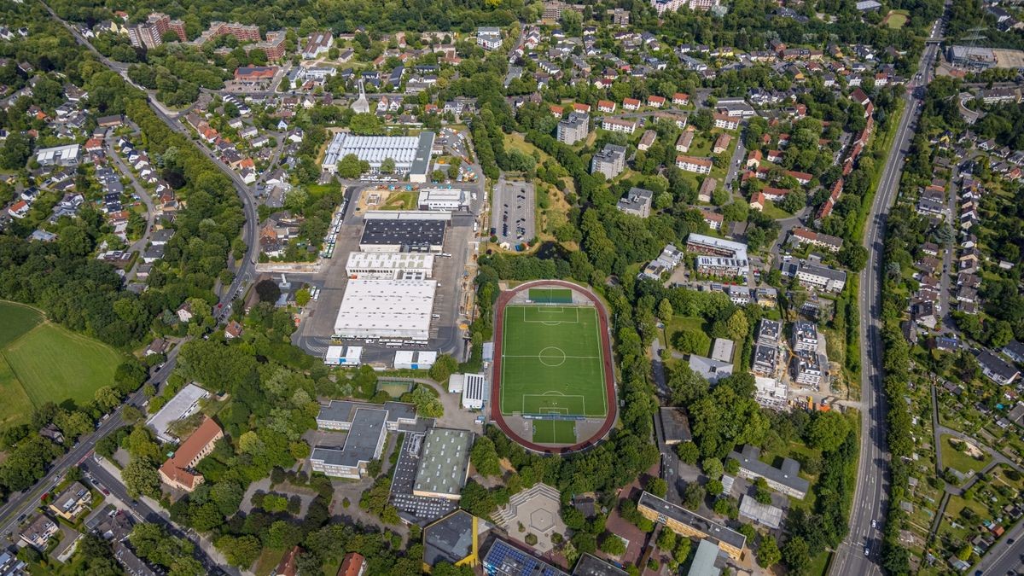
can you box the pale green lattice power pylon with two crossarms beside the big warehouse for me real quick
[971,13,998,55]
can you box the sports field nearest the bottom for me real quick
[533,420,577,443]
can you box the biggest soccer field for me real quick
[500,301,608,419]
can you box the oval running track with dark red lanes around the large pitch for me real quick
[489,278,619,456]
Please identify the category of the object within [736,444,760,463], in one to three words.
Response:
house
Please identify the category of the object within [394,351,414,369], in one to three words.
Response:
shed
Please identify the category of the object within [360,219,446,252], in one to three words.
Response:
building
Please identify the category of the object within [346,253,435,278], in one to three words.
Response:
building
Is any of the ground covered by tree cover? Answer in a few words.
Yes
